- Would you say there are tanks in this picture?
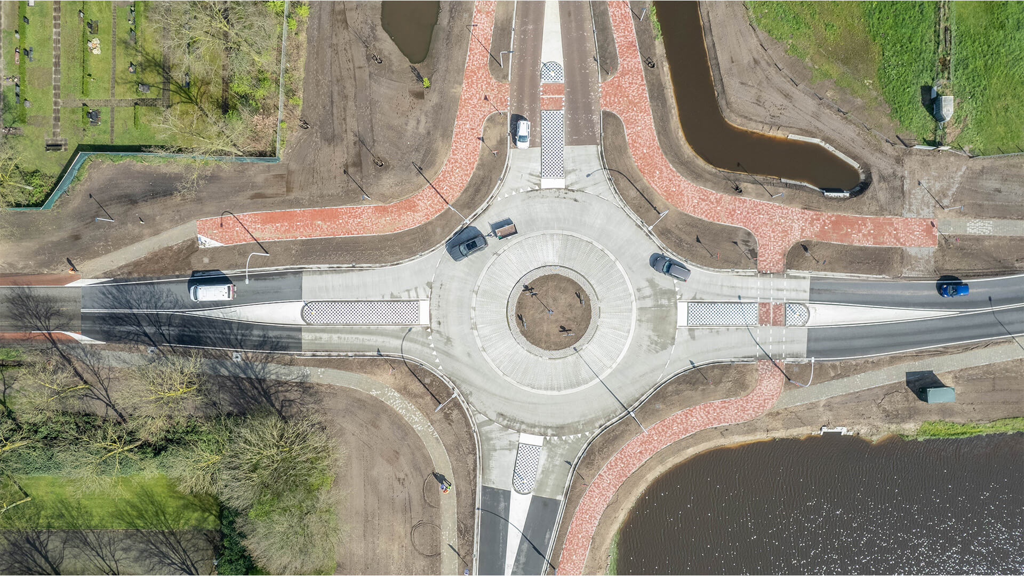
No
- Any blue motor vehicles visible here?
Yes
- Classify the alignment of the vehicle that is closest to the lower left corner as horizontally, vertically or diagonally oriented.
horizontally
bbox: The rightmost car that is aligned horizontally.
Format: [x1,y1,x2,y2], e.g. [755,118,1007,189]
[940,282,972,298]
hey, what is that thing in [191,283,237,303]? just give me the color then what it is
white vehicle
